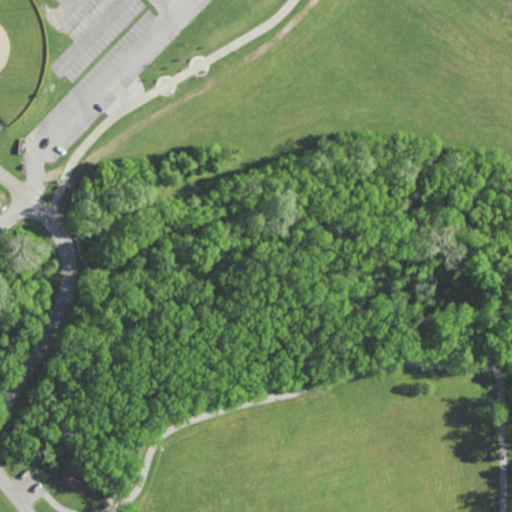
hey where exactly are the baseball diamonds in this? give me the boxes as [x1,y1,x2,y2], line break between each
[0,0,45,125]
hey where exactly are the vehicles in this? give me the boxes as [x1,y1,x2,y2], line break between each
[40,138,49,148]
[22,470,31,480]
[57,146,68,156]
[93,104,102,112]
[34,483,43,492]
